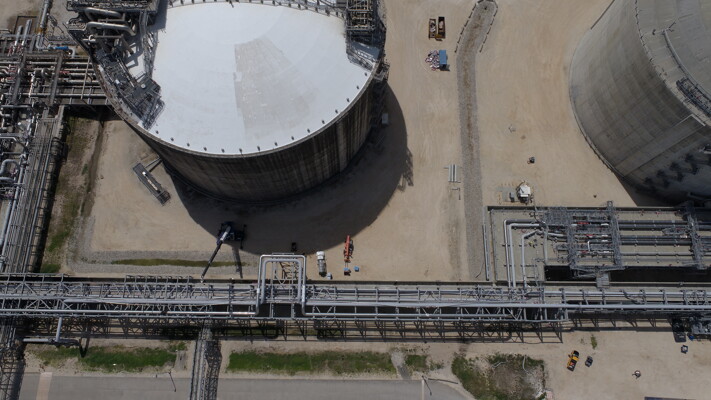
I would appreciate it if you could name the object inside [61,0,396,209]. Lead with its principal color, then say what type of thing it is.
white storage tank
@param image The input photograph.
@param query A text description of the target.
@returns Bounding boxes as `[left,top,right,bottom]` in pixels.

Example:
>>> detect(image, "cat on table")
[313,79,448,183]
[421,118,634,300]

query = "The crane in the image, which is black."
[200,221,249,281]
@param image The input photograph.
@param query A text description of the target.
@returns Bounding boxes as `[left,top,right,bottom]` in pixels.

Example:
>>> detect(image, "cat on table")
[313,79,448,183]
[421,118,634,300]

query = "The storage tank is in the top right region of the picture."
[568,0,711,206]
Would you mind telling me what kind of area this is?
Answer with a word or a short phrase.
industrial area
